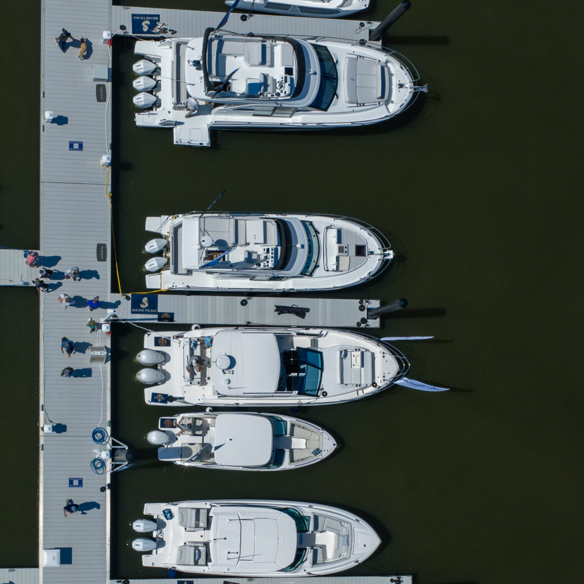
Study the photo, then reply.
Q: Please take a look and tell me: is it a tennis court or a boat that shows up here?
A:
boat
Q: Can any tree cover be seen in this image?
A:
No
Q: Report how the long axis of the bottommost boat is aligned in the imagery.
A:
from left to right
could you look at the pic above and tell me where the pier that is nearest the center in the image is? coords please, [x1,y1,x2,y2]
[111,294,380,328]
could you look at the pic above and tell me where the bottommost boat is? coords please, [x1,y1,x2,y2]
[130,499,381,578]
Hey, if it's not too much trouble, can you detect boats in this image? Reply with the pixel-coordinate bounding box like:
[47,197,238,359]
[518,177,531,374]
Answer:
[146,411,340,472]
[143,211,393,293]
[130,499,381,578]
[225,0,370,18]
[134,327,410,407]
[131,26,428,147]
